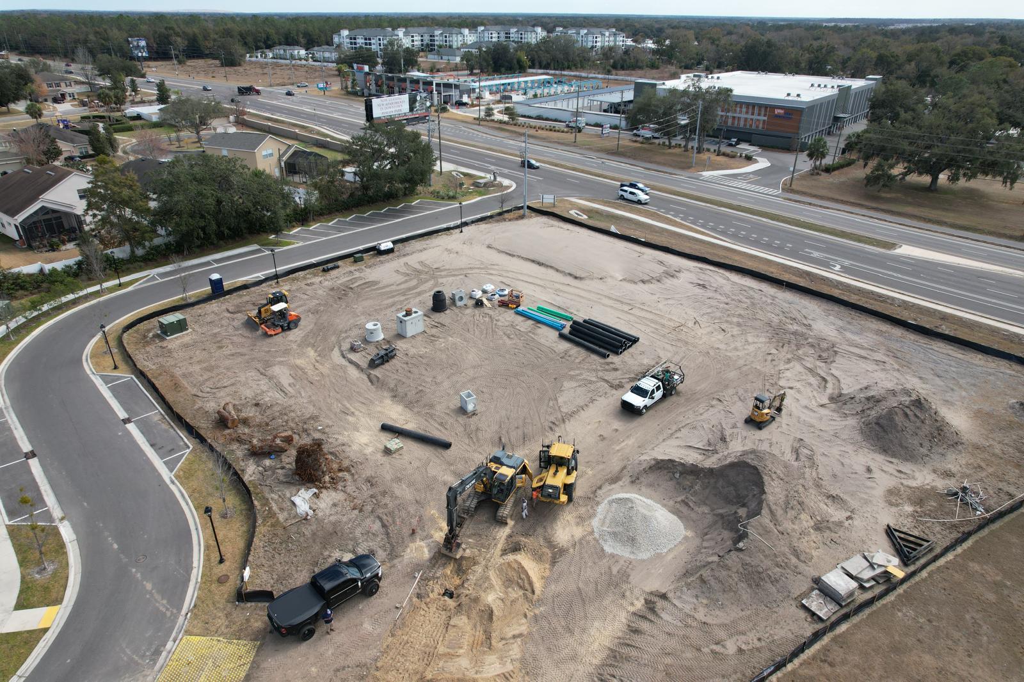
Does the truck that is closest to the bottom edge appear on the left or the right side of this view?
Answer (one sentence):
The truck that is closest to the bottom edge is on the left side of the image.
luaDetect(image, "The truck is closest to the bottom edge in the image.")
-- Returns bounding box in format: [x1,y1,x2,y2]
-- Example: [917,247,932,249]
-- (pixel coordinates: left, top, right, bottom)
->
[268,554,387,642]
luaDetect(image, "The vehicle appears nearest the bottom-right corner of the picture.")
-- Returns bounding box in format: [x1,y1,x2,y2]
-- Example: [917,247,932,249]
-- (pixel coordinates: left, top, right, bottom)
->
[744,388,781,428]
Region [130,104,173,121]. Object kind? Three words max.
shed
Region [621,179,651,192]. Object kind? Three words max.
vehicle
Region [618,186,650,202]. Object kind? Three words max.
vehicle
